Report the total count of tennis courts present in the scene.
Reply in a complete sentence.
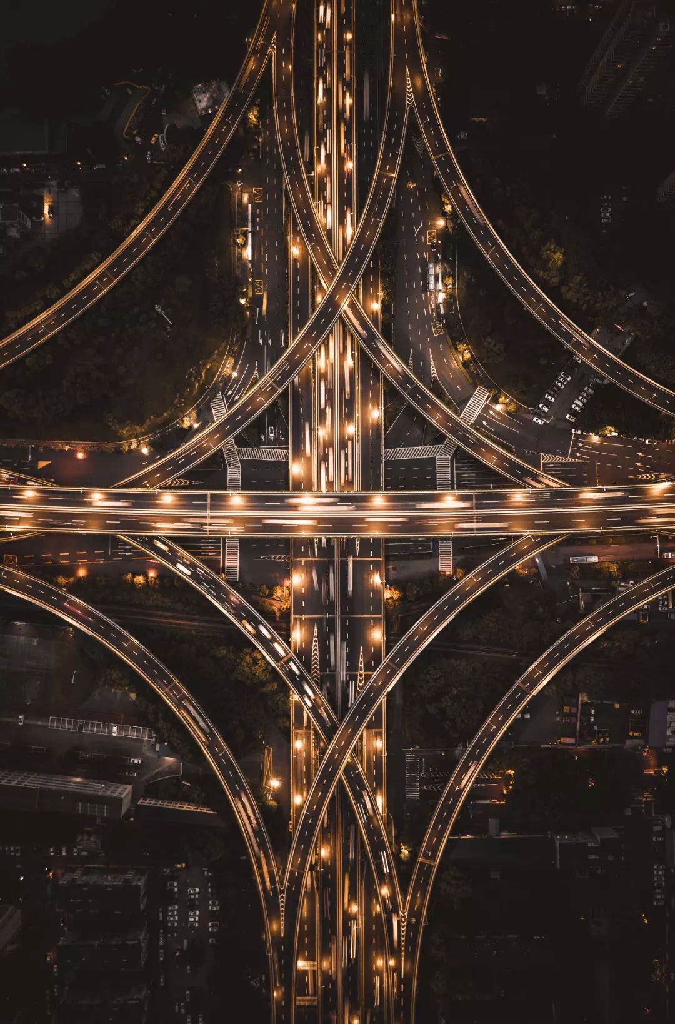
The photo contains no tennis courts.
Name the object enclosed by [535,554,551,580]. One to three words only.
vehicle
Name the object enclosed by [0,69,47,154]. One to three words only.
building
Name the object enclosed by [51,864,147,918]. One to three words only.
building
